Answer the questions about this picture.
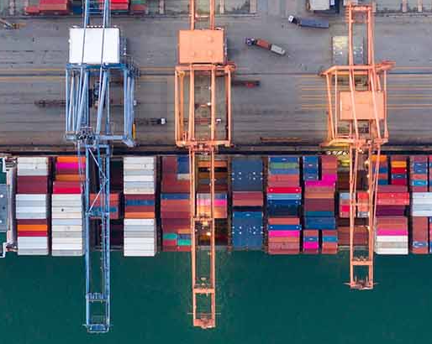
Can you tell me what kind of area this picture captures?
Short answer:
port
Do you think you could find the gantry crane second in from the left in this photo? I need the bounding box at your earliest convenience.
[172,0,245,331]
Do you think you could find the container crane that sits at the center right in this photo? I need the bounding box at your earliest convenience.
[312,2,399,291]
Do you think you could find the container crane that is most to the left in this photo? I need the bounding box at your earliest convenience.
[64,0,150,333]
